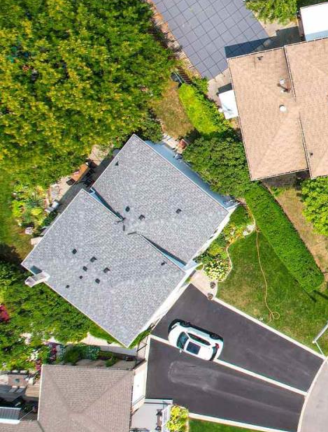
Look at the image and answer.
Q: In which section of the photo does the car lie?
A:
bottom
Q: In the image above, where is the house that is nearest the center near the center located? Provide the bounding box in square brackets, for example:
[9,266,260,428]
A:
[21,133,243,349]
